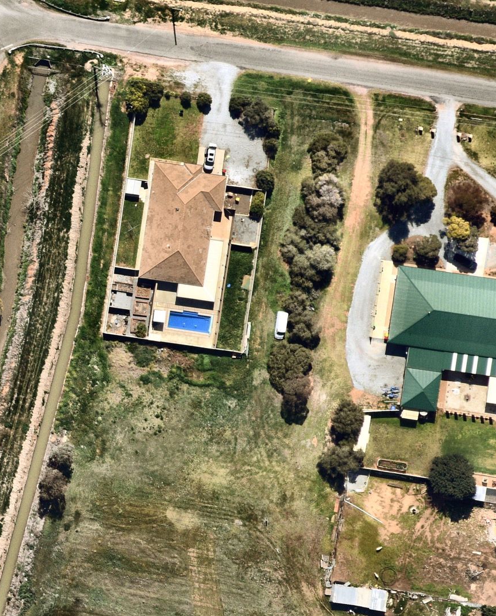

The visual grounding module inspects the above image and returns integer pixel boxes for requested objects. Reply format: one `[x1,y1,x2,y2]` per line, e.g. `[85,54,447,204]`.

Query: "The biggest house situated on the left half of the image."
[139,162,227,302]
